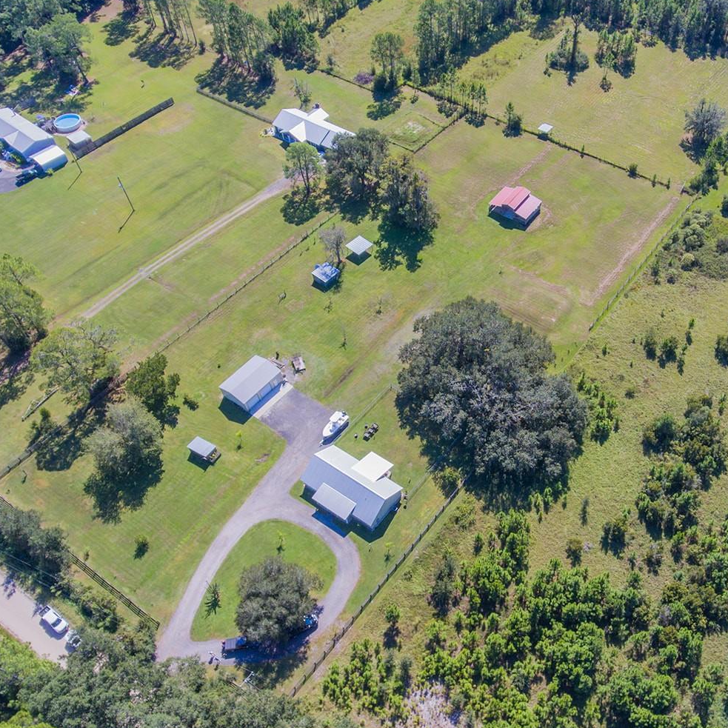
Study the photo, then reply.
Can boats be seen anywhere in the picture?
Yes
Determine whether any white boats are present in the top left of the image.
No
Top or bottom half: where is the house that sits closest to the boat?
bottom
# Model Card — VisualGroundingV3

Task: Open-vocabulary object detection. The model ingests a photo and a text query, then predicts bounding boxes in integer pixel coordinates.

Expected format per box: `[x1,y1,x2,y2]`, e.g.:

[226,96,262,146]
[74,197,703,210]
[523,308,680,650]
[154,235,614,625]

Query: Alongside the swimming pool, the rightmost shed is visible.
[59,128,95,156]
